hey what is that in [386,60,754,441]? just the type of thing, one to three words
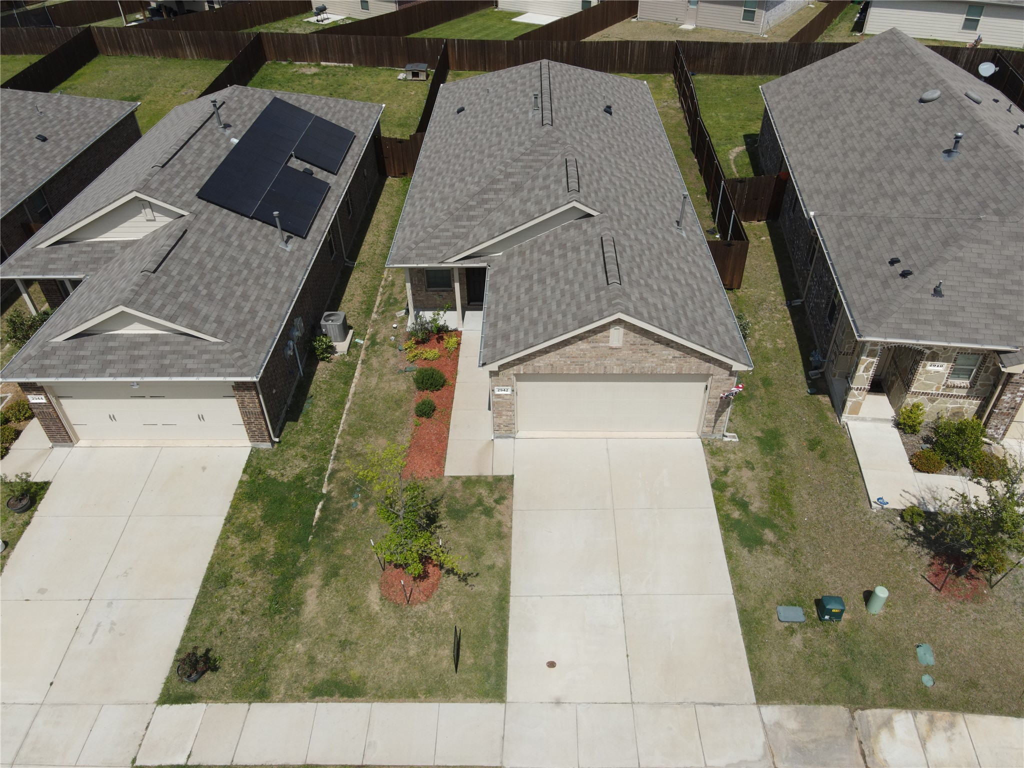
house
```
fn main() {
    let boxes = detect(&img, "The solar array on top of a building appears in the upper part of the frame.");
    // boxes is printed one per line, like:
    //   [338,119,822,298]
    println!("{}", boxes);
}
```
[197,94,359,237]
